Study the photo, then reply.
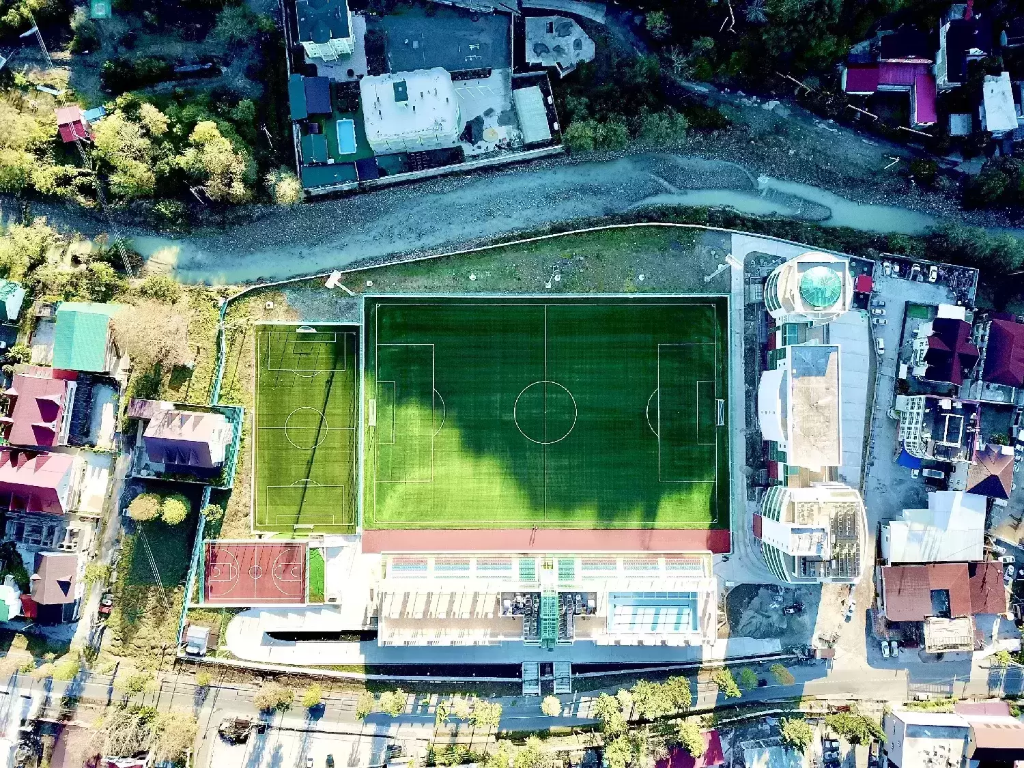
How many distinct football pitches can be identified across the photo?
two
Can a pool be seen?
Yes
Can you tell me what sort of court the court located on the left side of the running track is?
basketball court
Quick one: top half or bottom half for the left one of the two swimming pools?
top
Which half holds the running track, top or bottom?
bottom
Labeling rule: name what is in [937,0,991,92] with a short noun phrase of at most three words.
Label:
house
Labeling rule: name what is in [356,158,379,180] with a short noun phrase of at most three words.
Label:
shed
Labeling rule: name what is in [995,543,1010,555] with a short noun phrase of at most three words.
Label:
vehicle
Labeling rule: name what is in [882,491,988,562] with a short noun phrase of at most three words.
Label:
building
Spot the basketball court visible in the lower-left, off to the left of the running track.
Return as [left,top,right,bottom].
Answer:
[203,543,306,604]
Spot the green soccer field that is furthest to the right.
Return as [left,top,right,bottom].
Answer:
[362,297,730,529]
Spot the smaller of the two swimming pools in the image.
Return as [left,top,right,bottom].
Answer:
[336,119,357,154]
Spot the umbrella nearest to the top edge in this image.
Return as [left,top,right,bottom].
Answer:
[483,125,497,139]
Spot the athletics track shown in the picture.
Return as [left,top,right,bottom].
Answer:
[362,530,730,552]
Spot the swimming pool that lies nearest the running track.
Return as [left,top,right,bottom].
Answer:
[608,592,698,634]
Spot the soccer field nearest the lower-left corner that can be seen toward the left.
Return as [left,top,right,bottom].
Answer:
[253,324,360,533]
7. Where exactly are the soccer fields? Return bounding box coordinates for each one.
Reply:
[253,324,360,533]
[362,297,730,529]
